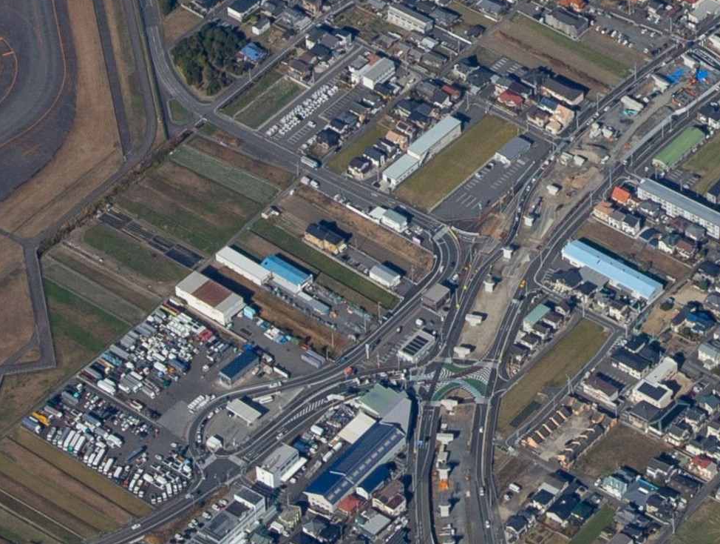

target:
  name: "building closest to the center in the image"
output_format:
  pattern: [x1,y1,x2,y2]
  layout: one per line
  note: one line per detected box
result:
[368,262,402,291]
